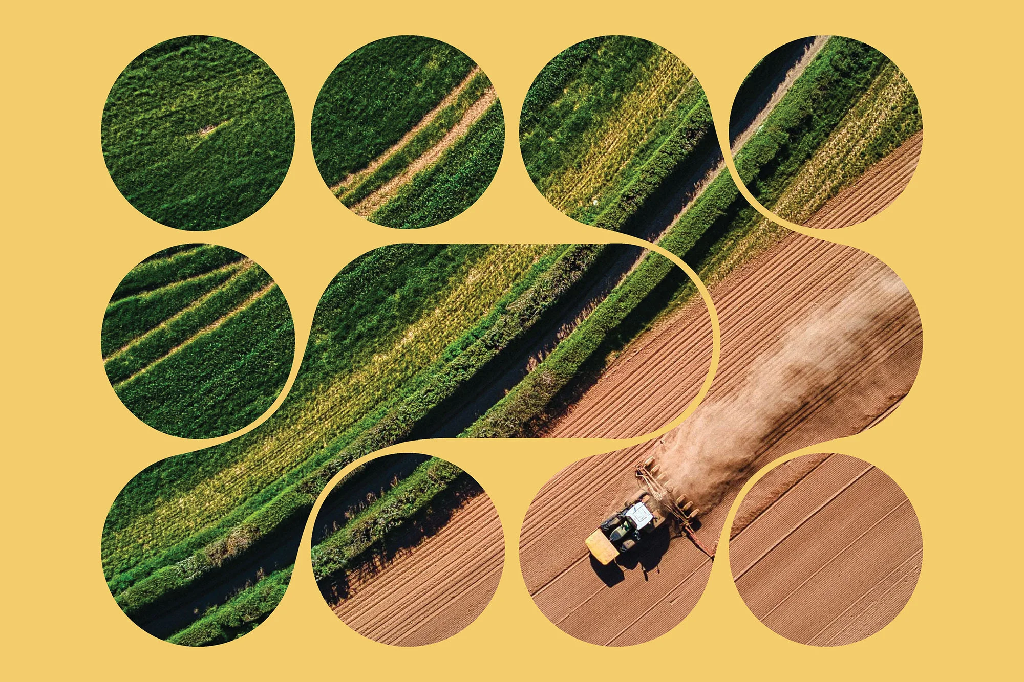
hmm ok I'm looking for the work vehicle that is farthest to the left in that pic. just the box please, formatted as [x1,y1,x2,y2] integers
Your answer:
[586,484,671,566]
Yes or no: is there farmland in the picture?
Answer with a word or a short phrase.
Yes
